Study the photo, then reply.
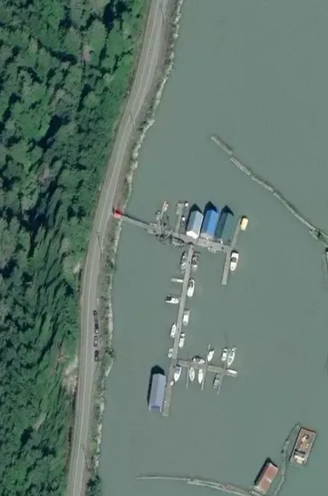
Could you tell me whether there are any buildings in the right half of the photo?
Yes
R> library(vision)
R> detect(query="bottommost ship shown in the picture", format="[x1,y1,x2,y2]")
[290,429,316,466]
